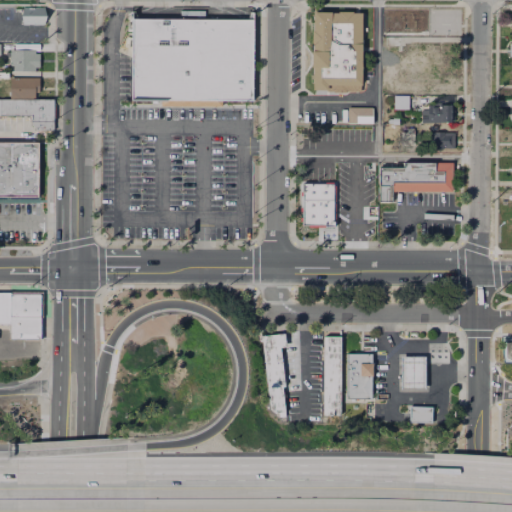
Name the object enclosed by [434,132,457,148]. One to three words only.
house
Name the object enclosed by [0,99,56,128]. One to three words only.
building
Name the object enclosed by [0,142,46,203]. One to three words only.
building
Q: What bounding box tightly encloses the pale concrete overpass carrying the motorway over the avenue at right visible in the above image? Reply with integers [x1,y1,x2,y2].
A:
[434,452,512,512]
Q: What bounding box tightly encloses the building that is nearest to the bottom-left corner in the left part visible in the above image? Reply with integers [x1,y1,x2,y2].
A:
[0,292,42,340]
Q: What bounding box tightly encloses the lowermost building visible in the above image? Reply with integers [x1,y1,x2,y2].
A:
[410,405,434,424]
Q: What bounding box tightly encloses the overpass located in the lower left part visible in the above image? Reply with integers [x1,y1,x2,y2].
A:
[18,438,145,512]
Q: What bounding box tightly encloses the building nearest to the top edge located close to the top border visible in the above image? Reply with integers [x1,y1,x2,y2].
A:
[22,8,48,26]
